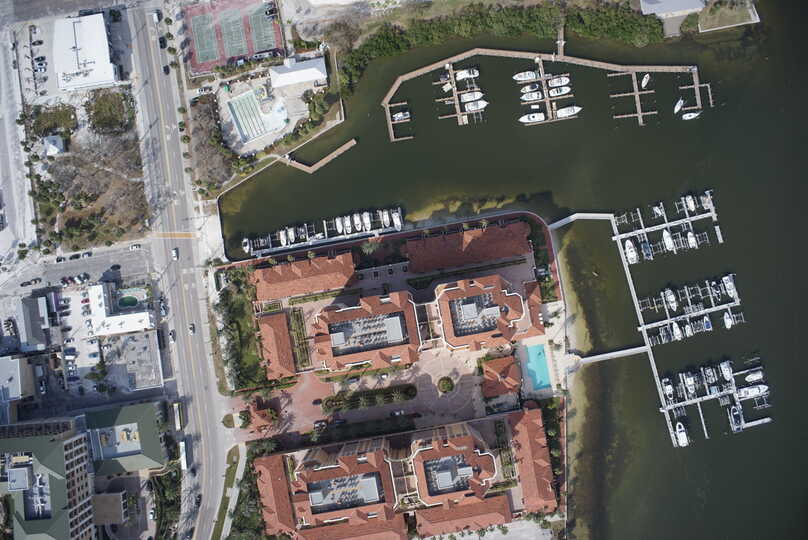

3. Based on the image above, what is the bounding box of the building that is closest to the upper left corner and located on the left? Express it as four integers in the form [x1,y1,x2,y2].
[53,13,123,92]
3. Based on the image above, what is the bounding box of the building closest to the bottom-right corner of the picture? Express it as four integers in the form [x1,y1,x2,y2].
[507,407,558,513]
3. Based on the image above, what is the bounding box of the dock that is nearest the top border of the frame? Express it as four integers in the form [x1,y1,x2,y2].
[379,12,713,141]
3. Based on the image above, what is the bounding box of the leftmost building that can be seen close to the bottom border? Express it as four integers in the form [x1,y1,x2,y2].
[0,415,110,540]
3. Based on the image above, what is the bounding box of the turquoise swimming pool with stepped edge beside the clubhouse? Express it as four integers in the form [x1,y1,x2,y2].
[526,343,552,392]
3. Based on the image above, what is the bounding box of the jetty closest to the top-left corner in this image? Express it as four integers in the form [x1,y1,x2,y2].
[275,138,357,174]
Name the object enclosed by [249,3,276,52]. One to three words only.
tennis court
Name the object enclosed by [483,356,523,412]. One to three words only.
building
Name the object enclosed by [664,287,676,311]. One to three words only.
boat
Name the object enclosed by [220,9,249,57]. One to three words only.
tennis court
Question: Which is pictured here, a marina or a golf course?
marina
